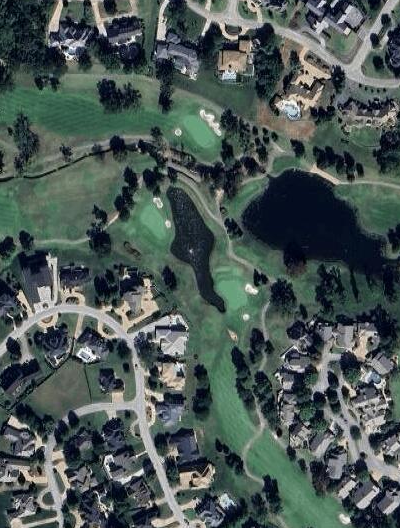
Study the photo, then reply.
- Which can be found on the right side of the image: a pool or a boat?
pool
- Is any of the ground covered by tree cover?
Yes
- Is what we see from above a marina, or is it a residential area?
residential area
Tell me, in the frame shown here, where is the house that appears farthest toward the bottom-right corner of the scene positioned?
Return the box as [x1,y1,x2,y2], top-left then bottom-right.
[375,487,400,520]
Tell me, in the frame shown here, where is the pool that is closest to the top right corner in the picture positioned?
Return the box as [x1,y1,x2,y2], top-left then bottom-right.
[280,99,302,122]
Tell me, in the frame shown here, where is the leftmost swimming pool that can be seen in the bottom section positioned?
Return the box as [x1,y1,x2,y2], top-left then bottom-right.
[78,348,97,365]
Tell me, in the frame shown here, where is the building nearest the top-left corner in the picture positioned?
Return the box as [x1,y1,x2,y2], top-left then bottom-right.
[50,15,93,50]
